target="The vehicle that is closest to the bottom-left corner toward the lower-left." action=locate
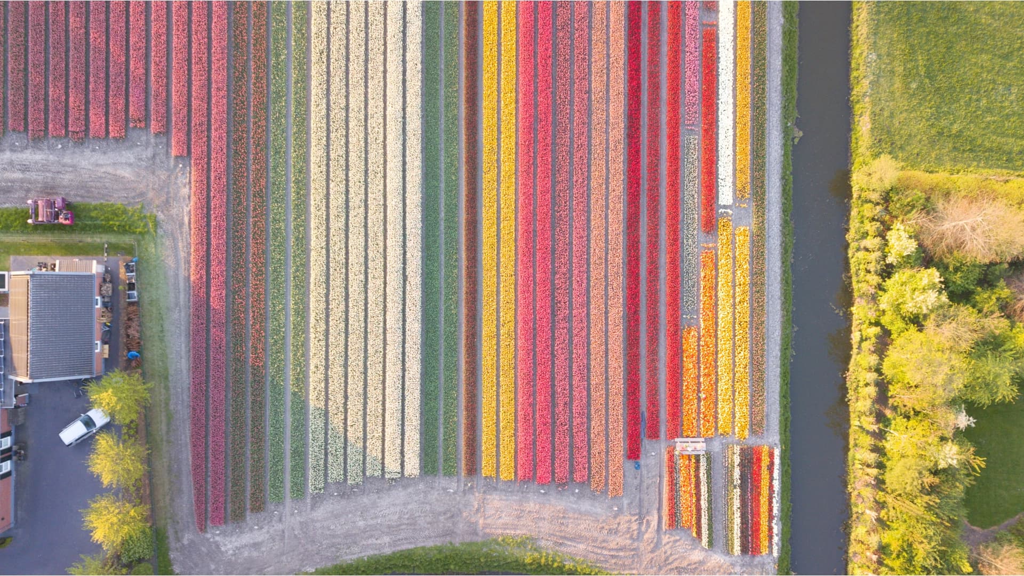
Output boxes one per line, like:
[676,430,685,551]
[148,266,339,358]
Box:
[57,407,115,449]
